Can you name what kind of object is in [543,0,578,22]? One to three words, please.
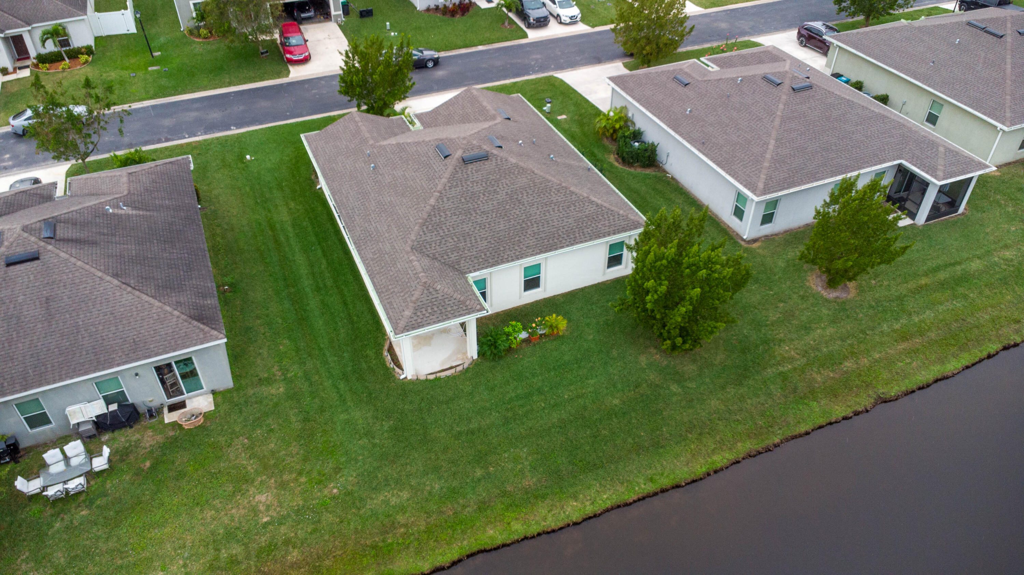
car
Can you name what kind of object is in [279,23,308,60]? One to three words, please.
car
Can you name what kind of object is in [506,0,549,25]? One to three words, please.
truck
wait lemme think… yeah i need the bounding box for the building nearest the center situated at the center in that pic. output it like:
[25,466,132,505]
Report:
[301,89,649,384]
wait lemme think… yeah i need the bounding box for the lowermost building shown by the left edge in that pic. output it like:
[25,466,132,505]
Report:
[0,154,233,448]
